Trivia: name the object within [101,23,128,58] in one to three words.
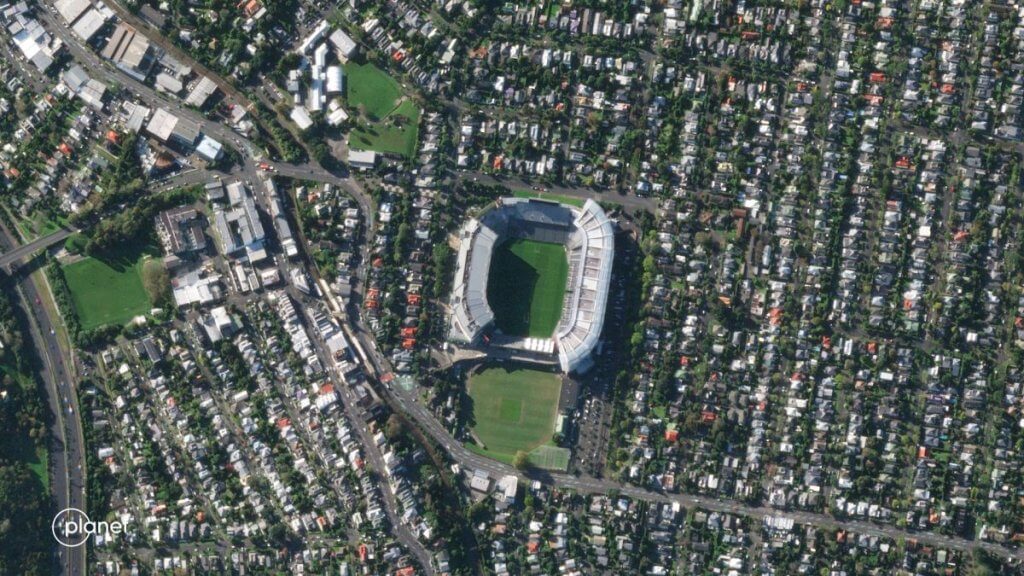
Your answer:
shed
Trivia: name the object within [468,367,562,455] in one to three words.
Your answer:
sports field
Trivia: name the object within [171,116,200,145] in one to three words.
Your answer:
building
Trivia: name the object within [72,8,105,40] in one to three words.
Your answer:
building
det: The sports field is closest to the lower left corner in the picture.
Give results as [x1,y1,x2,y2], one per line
[62,257,149,331]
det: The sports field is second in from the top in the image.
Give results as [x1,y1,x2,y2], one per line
[347,99,419,157]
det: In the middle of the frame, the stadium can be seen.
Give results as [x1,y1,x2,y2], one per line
[448,198,615,374]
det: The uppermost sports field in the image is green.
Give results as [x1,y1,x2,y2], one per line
[345,63,403,125]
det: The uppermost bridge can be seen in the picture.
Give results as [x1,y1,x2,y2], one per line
[0,225,80,267]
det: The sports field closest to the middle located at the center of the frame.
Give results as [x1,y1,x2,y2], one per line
[488,239,569,338]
